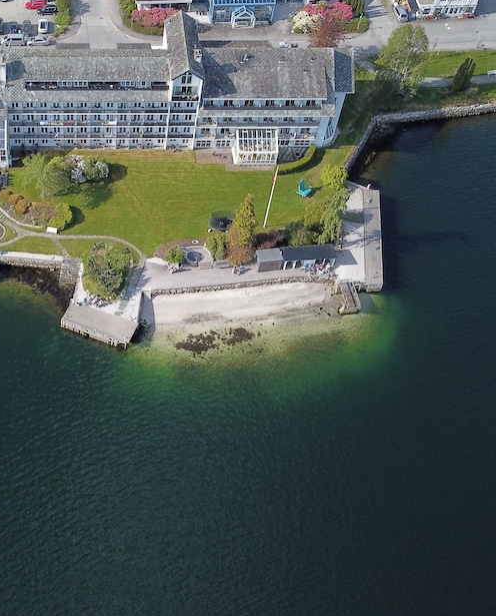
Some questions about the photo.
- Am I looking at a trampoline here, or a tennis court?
trampoline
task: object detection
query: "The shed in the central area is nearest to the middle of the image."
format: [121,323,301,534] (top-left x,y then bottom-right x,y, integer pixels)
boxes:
[254,246,284,271]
